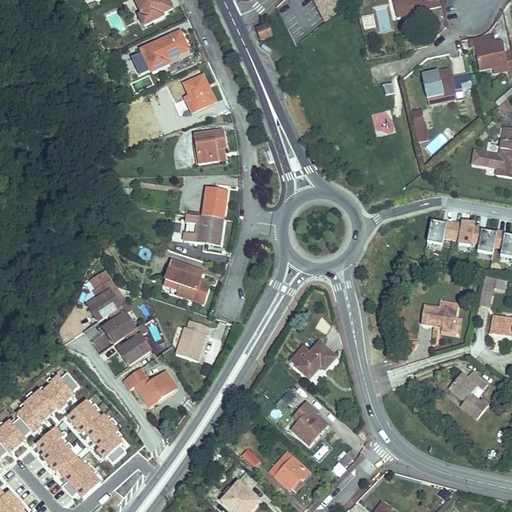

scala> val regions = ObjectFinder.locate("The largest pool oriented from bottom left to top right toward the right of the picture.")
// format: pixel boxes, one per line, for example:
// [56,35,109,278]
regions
[424,133,448,156]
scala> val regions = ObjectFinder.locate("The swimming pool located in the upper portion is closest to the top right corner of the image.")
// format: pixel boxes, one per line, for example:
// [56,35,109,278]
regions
[374,6,392,34]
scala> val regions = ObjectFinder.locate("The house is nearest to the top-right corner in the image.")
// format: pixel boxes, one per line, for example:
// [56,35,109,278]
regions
[469,34,512,80]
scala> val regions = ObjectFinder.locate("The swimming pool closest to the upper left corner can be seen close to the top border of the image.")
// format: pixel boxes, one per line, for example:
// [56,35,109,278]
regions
[104,8,128,34]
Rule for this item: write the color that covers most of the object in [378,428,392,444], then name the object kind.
white vehicle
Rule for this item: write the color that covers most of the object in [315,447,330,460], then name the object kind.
white vehicle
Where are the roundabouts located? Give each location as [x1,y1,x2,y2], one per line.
[275,186,366,276]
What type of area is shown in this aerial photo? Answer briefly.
residential area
